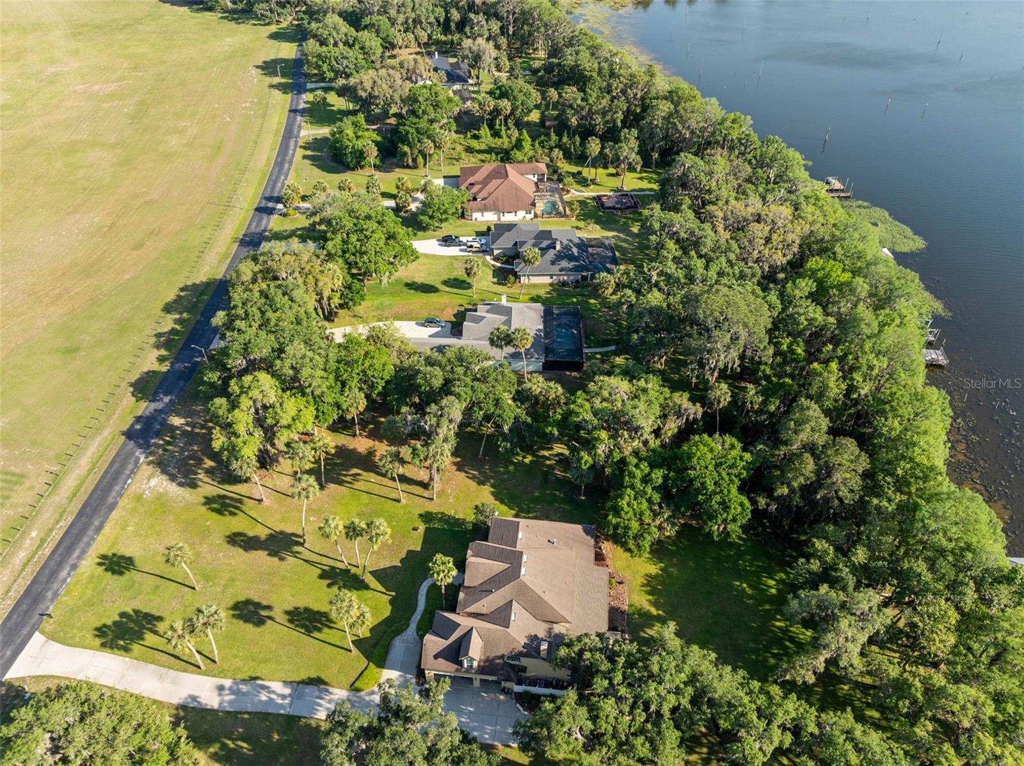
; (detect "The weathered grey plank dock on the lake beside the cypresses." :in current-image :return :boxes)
[922,319,949,368]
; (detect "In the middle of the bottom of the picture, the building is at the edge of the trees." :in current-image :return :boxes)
[422,516,609,690]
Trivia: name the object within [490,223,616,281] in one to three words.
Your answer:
house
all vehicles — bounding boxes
[424,316,446,327]
[446,239,464,246]
[466,243,487,251]
[466,236,483,244]
[442,234,459,242]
